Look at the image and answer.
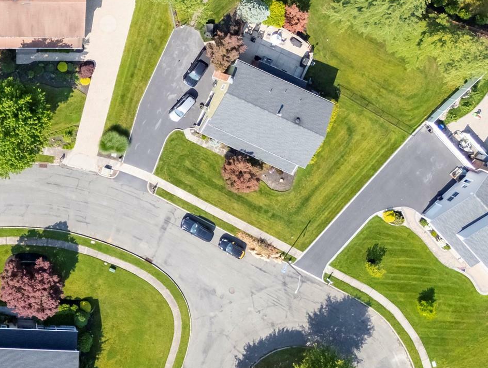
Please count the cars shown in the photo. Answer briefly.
4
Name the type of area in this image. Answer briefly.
residential area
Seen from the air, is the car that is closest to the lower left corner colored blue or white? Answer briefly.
blue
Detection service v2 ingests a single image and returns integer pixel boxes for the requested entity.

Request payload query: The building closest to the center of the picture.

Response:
[196,59,335,175]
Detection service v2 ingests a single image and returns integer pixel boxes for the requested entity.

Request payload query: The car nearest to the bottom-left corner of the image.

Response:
[178,216,216,243]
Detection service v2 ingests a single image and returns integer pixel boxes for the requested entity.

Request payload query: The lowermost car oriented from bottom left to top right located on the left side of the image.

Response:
[168,90,199,123]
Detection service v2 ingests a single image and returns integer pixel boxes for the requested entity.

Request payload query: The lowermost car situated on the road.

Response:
[216,236,246,259]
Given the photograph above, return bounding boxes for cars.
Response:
[216,236,246,259]
[178,216,216,243]
[168,90,199,123]
[182,55,210,89]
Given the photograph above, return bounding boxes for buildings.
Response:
[196,59,335,175]
[0,0,86,54]
[0,318,80,368]
[422,157,488,278]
